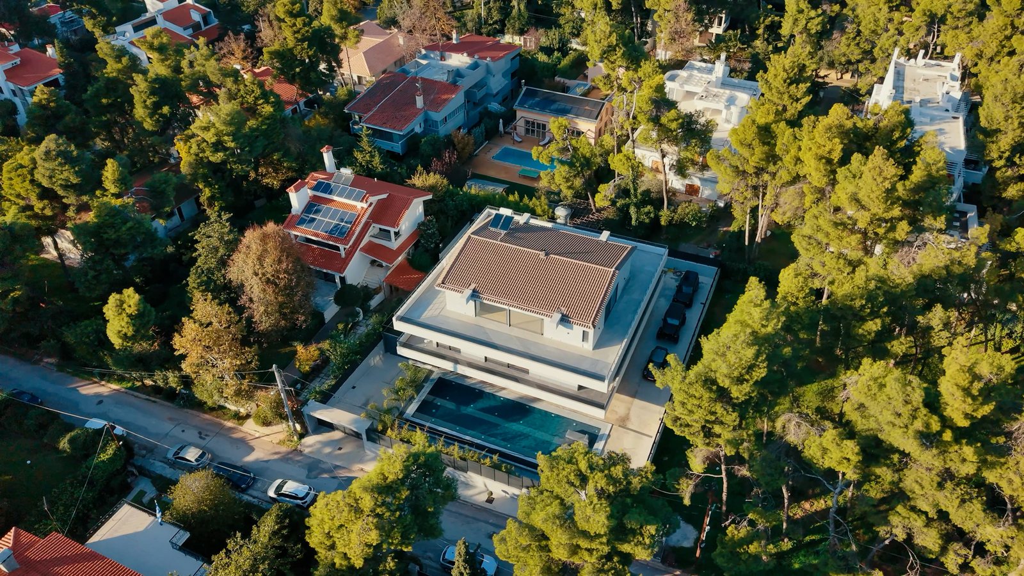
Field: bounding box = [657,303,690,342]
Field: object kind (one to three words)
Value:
car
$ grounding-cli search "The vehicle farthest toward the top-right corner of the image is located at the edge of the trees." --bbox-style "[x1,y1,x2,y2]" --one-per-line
[673,266,704,303]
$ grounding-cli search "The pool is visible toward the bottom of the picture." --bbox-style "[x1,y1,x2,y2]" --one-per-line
[403,368,614,474]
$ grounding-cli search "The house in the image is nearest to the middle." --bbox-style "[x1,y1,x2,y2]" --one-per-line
[391,200,668,418]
